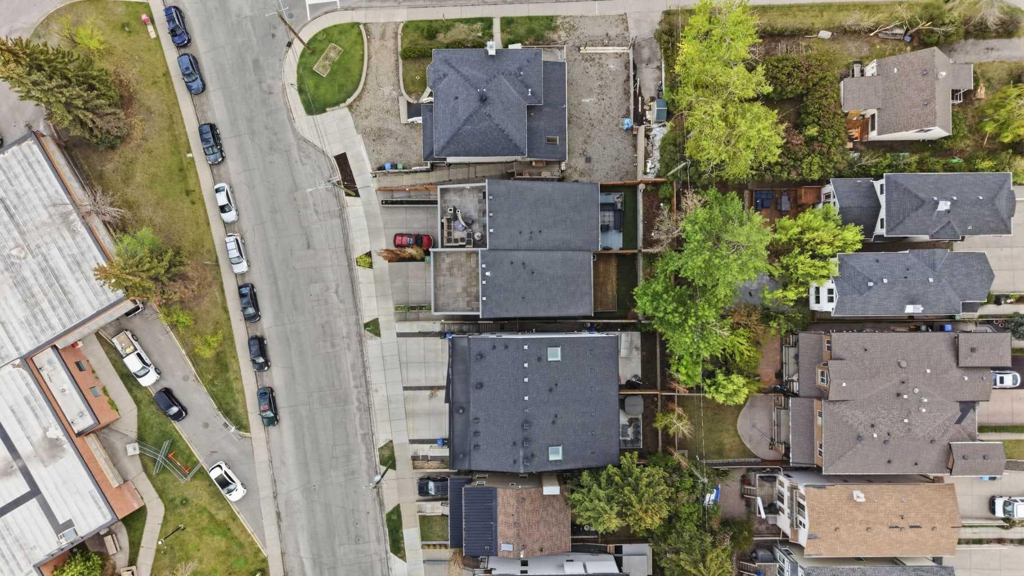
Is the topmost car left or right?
left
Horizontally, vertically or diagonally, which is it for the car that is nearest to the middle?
horizontally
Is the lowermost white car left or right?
right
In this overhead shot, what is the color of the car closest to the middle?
red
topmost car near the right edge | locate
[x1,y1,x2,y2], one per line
[993,369,1021,390]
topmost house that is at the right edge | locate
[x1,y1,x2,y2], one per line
[833,47,973,141]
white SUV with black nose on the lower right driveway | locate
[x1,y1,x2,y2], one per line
[988,497,1024,520]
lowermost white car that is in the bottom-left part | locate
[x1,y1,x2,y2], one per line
[209,460,245,501]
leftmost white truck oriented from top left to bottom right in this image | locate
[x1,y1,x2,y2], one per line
[113,329,158,384]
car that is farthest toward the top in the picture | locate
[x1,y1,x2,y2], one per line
[163,4,195,49]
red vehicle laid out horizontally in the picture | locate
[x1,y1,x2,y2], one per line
[394,232,434,252]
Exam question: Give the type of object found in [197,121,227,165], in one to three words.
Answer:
car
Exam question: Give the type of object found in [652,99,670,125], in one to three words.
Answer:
shed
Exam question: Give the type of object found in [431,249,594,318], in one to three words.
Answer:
house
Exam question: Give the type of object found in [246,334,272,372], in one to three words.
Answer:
car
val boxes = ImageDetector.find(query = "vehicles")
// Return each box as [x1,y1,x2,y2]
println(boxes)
[394,232,434,252]
[417,477,448,500]
[197,121,227,165]
[209,460,245,501]
[993,369,1021,390]
[236,281,263,324]
[153,384,186,423]
[246,334,272,372]
[224,232,252,275]
[113,329,158,384]
[988,497,1024,520]
[256,384,281,427]
[214,181,241,224]
[163,4,195,49]
[177,52,208,95]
